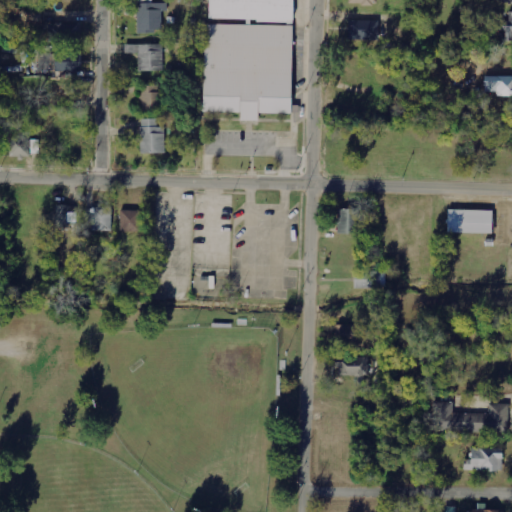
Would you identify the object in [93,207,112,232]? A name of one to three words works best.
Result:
house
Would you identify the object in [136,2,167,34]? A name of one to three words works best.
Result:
house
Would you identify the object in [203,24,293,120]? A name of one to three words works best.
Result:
building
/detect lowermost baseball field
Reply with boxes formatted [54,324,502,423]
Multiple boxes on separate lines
[0,438,171,512]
